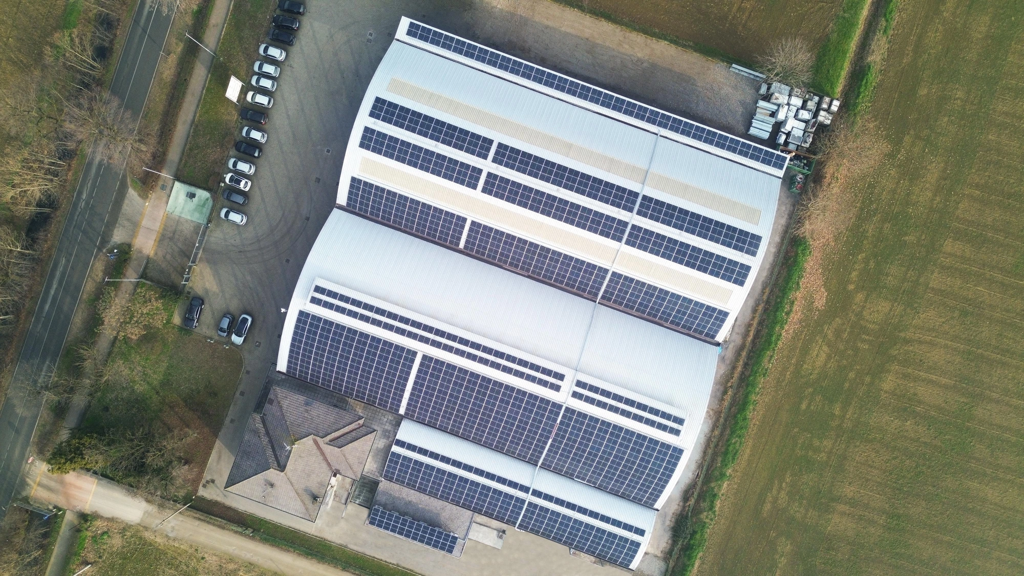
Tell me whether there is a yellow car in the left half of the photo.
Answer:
No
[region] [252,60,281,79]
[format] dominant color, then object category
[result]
white car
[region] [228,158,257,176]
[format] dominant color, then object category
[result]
white car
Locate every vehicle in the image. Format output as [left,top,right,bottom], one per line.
[217,313,235,338]
[258,43,287,62]
[221,189,249,206]
[277,0,307,17]
[239,106,270,126]
[232,313,254,345]
[250,74,278,93]
[235,141,263,158]
[225,174,253,192]
[184,297,205,329]
[242,127,269,144]
[267,28,297,47]
[228,158,257,176]
[220,208,249,225]
[252,60,281,79]
[246,90,275,109]
[272,13,301,33]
